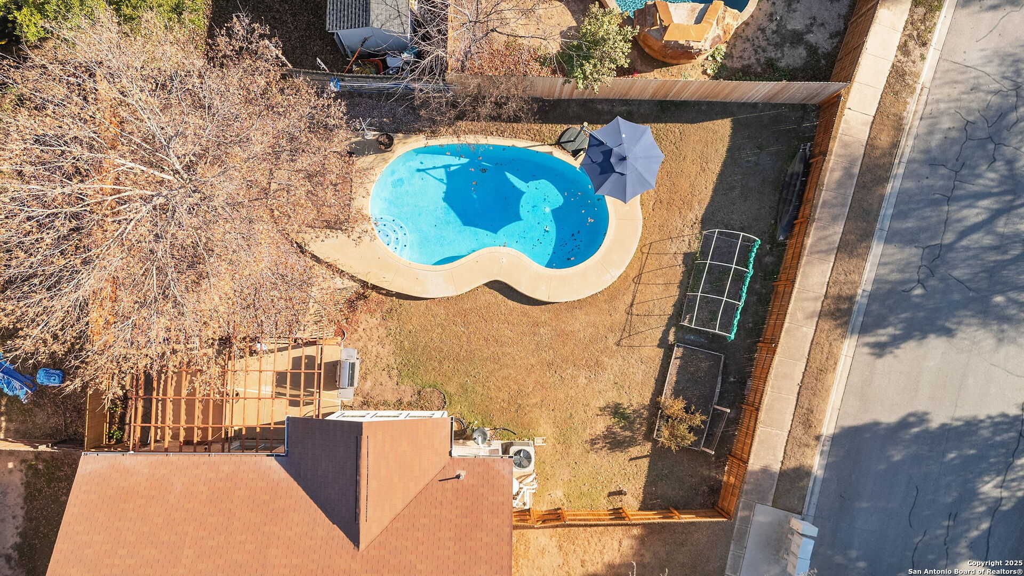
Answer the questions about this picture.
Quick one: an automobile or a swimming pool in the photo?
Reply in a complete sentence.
Looking from above, you can make out a swimming pool.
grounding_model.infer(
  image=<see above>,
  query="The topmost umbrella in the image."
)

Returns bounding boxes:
[558,116,664,203]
